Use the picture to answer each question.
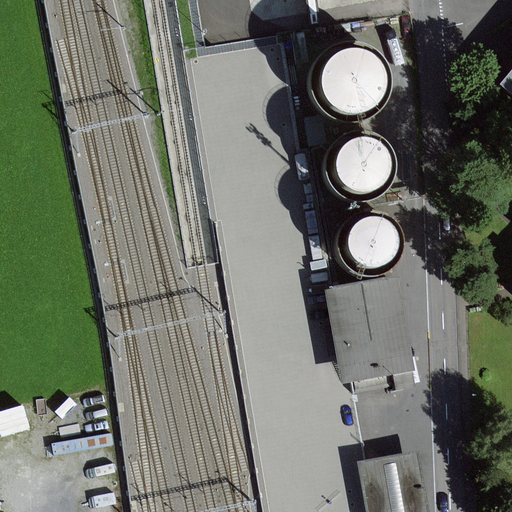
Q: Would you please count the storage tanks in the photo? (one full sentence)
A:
There are 3 storage tanks in the image.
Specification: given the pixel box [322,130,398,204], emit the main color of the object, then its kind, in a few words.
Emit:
white storage tank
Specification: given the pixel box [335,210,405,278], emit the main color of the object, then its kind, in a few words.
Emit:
white storage tank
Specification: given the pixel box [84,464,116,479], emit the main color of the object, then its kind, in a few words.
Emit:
white camper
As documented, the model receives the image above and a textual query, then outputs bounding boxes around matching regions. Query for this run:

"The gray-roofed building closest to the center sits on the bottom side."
[324,276,415,391]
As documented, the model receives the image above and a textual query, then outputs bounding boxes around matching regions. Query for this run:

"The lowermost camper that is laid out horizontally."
[81,492,117,508]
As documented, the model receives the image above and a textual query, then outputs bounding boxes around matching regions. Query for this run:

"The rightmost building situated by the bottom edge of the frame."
[358,452,427,512]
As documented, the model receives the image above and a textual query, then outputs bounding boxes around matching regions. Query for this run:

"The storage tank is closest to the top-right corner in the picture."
[308,42,393,126]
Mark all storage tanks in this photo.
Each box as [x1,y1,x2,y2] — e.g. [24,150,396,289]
[308,42,393,126]
[322,130,398,204]
[335,210,405,278]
